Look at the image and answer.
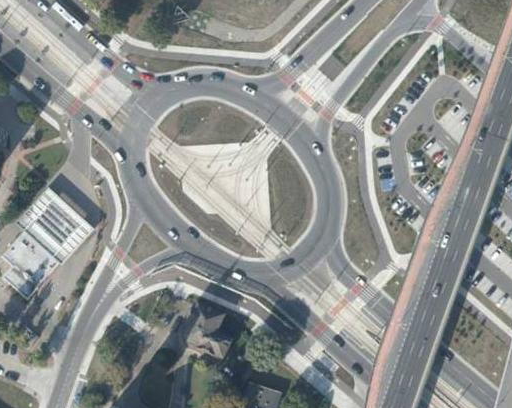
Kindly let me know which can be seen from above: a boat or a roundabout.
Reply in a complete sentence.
The image shows a roundabout.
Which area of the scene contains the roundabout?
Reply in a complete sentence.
The roundabout sits in the center section of the image.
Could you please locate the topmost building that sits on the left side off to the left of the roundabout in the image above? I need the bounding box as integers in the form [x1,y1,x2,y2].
[17,188,93,263]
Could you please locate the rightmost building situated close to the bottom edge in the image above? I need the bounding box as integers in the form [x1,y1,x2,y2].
[243,381,281,408]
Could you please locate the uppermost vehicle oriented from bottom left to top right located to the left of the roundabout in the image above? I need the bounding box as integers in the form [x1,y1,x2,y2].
[53,297,66,312]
